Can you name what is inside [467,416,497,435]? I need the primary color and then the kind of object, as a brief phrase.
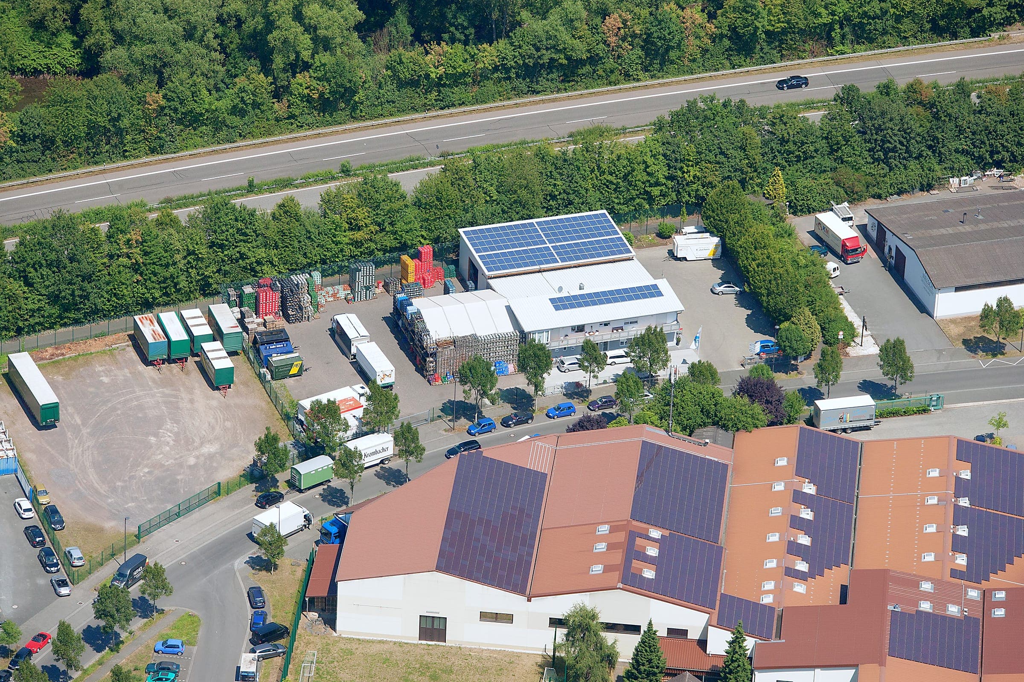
blue car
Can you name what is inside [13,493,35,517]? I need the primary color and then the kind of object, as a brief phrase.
white car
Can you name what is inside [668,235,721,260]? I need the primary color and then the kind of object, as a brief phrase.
white trailer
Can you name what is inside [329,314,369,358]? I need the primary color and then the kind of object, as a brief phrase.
white truck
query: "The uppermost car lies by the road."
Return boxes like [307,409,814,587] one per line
[776,73,810,89]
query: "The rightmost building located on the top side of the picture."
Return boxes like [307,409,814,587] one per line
[864,192,1024,318]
